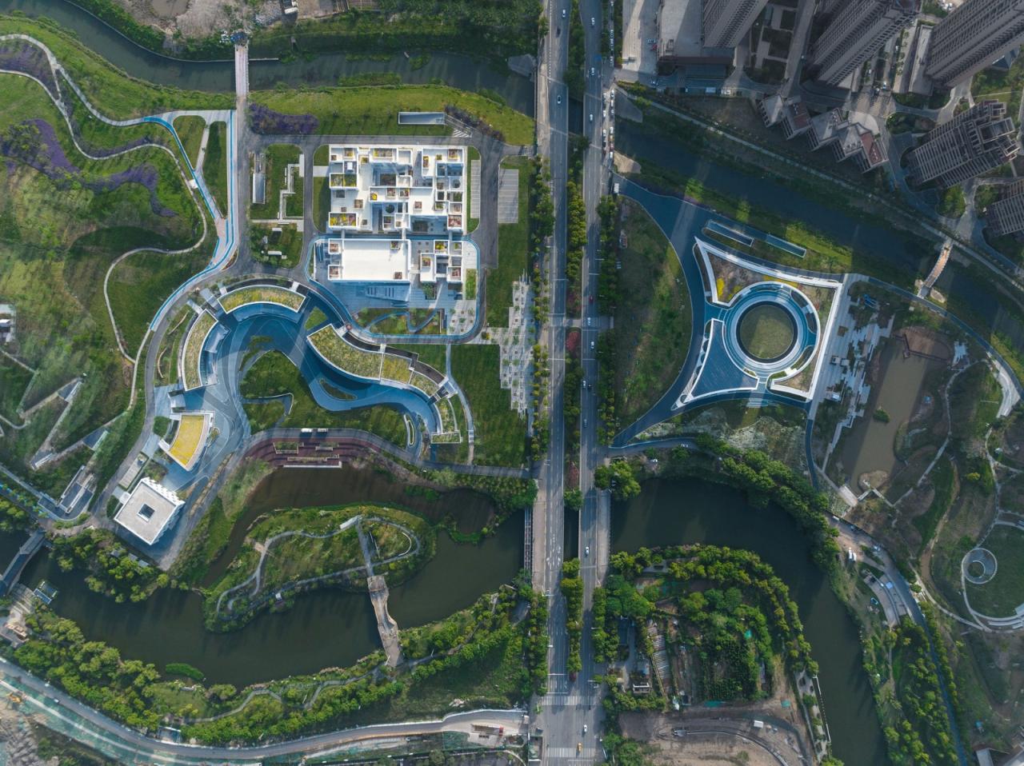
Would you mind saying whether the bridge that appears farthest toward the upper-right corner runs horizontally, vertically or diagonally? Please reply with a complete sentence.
From this overhead view, the bridge that appears farthest toward the upper-right corner appears to run vertically.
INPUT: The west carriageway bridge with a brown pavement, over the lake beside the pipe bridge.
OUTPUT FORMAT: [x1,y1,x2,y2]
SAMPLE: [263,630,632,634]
[533,489,564,570]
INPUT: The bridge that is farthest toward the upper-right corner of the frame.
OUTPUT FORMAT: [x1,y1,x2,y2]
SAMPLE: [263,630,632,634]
[582,72,616,149]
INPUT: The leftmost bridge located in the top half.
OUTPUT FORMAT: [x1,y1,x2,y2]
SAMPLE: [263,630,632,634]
[537,72,570,149]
